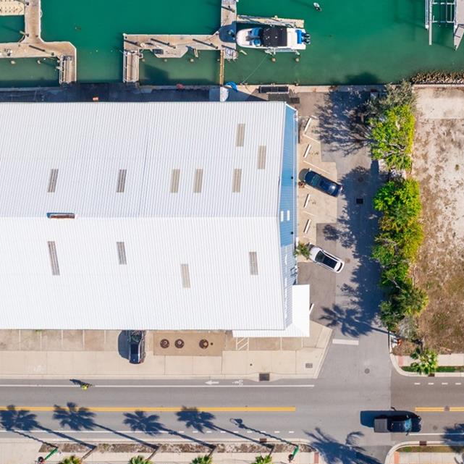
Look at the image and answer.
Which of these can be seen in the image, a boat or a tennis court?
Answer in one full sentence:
The one in the frame is a boat.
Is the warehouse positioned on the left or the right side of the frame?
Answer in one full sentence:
You can find the warehouse on the left side of the picture.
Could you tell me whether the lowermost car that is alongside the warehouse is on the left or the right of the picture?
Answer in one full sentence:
The lowermost car that is alongside the warehouse is on the left side of the image.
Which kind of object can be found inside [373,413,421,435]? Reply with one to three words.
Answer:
truck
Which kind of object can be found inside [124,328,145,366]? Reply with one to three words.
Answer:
car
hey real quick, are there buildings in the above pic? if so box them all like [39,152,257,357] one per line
[0,96,311,337]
